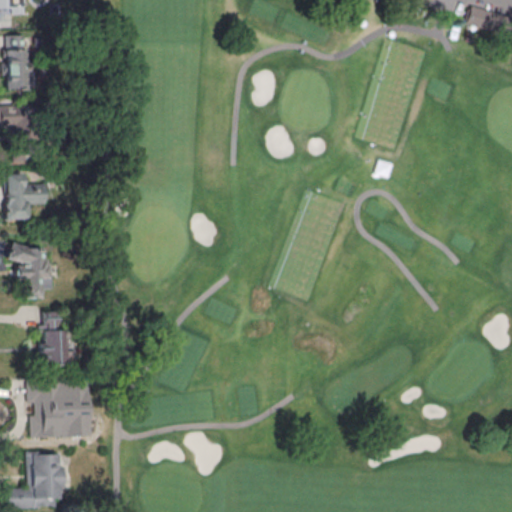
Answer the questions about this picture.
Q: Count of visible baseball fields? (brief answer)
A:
0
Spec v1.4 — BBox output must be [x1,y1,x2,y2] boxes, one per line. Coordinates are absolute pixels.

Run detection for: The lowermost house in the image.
[12,452,66,510]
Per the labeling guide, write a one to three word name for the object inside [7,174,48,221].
house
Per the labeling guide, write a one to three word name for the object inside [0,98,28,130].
house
